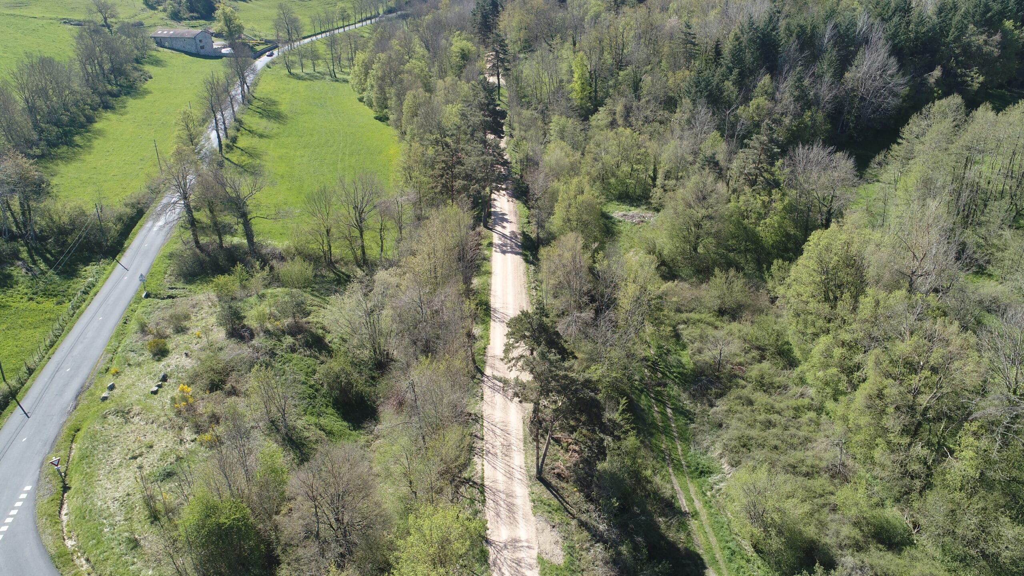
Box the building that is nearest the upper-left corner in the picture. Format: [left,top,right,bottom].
[148,25,216,56]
